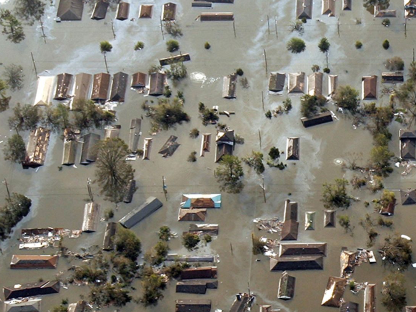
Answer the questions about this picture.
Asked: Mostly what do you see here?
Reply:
water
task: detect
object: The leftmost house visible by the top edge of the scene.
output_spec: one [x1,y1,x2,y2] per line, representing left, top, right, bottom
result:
[55,0,84,20]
